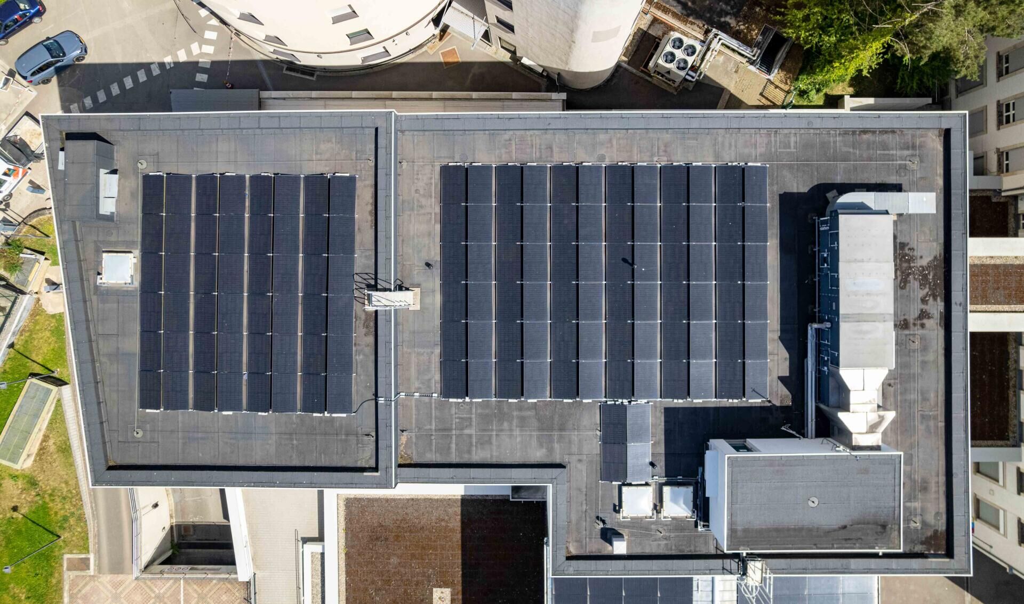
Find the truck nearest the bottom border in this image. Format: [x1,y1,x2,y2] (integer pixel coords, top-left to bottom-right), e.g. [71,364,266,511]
[0,108,43,195]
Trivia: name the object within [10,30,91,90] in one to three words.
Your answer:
car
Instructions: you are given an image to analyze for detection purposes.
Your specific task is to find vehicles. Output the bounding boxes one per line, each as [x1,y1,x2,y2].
[0,0,48,50]
[10,30,91,90]
[0,108,43,195]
